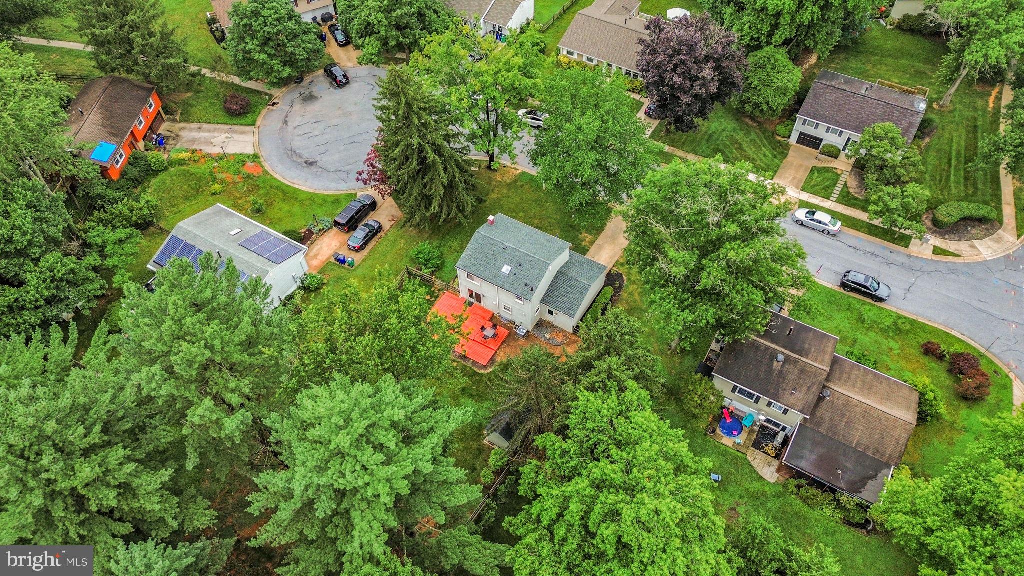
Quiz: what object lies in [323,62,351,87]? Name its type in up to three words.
car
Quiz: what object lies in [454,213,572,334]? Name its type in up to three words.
house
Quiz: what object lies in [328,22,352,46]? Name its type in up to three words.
car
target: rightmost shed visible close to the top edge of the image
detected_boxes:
[885,0,927,33]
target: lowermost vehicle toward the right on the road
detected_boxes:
[840,269,892,303]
